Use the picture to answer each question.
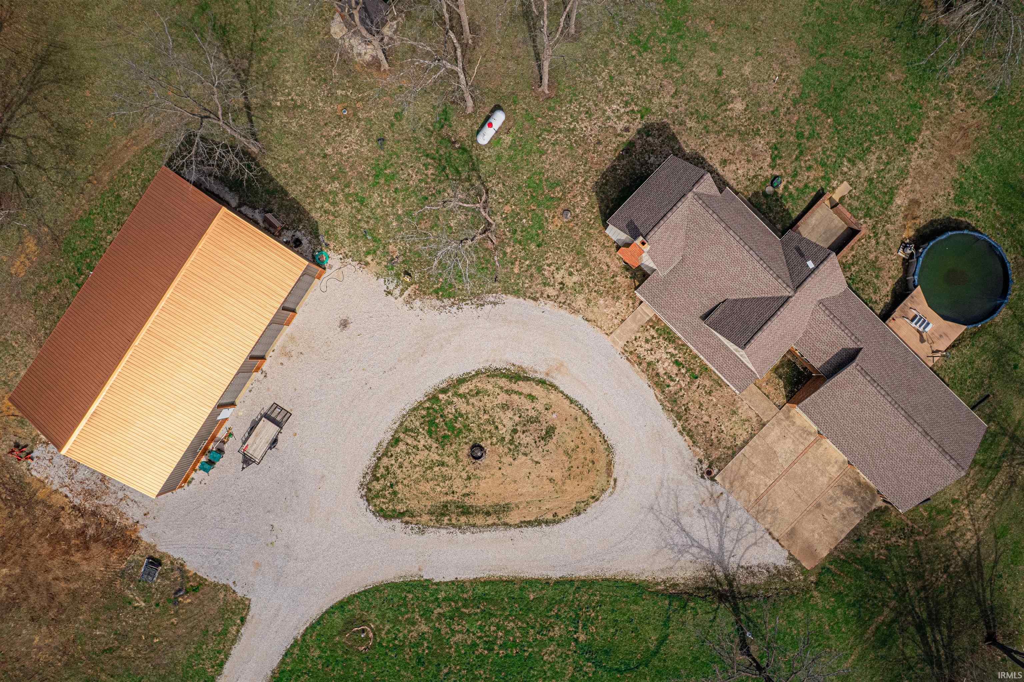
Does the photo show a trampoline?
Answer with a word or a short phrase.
No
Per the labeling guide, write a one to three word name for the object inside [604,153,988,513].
house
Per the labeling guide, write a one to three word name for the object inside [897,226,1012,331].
swimming pool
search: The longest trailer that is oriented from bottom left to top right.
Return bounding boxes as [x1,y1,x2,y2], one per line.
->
[237,403,290,473]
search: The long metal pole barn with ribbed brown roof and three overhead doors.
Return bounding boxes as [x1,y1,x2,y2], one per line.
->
[6,165,327,498]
